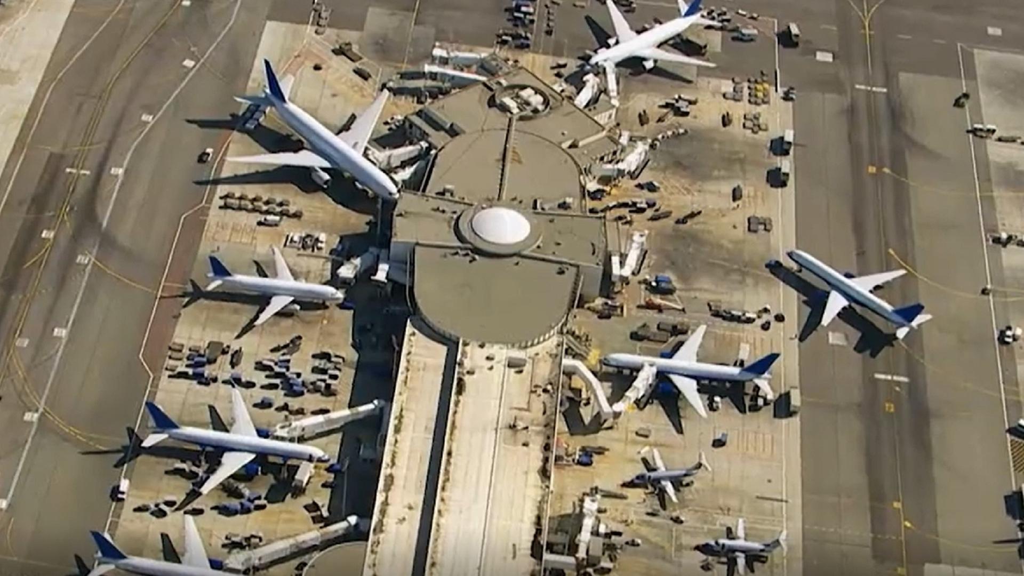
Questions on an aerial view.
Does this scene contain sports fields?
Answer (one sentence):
No, there appears to be no sports field in this shot.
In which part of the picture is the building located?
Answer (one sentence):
The building appears toward the center of the photo.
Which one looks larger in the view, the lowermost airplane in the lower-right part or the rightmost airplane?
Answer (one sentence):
The rightmost airplane takes up more space than the lowermost airplane in the lower-right part does.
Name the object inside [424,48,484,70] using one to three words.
jet bridge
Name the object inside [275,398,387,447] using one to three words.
jet bridge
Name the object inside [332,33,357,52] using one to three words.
vehicle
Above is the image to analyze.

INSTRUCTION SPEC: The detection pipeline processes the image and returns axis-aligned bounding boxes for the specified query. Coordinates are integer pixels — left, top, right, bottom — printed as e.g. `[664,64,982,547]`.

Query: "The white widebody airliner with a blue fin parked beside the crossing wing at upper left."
[216,66,399,200]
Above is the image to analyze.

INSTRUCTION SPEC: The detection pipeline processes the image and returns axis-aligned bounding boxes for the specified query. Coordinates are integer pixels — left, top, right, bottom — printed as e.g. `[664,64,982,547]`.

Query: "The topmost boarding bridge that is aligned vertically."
[600,62,621,124]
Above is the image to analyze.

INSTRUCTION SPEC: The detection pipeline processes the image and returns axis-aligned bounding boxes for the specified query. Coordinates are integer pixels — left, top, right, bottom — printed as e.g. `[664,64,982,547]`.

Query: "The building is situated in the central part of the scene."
[303,50,634,576]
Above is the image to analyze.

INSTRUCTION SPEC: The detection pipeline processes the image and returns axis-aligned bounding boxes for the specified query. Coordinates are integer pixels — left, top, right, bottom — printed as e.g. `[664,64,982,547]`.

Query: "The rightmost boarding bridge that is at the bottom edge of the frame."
[545,492,601,576]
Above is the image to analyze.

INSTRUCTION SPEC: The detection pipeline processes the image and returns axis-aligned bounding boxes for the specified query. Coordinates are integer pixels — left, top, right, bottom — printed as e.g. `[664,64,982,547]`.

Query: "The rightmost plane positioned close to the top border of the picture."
[588,0,737,71]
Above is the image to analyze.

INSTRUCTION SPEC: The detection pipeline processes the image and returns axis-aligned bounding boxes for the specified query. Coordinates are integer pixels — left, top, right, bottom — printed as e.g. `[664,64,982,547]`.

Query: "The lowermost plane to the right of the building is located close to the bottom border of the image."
[696,518,794,573]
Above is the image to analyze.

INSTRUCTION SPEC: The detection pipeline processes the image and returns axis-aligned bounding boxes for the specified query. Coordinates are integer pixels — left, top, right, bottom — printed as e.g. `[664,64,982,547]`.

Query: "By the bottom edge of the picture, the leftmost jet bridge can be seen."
[228,514,364,576]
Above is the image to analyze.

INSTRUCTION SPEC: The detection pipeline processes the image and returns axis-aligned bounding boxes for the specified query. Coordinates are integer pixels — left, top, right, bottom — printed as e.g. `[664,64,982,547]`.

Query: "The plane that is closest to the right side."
[788,250,946,327]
